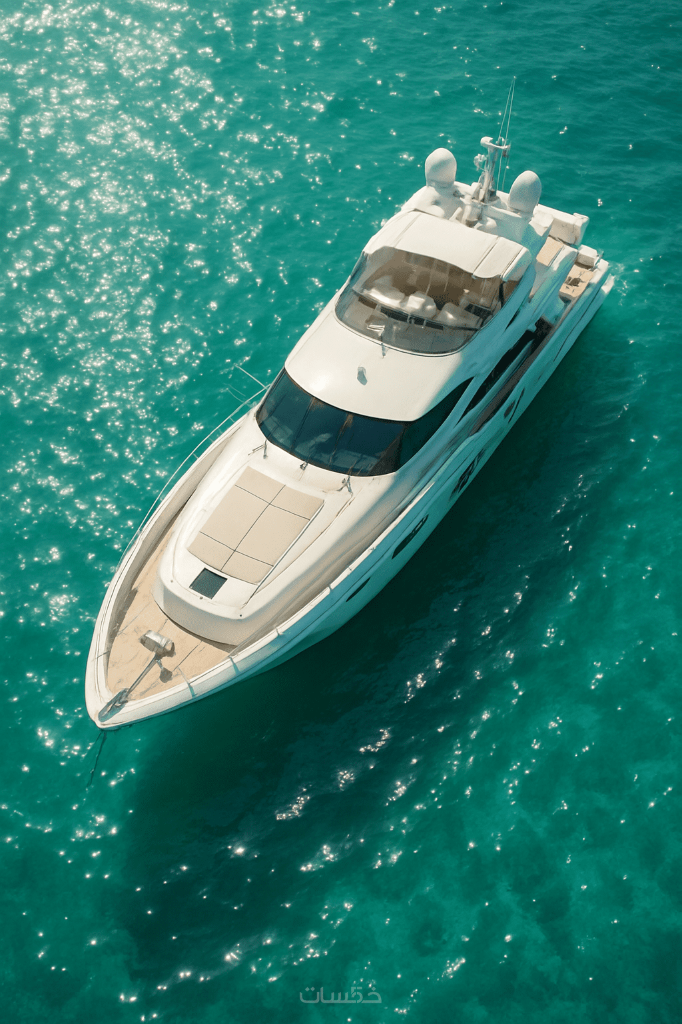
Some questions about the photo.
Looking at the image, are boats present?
Yes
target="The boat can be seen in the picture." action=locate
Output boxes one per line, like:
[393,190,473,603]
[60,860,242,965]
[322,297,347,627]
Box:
[84,79,622,732]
